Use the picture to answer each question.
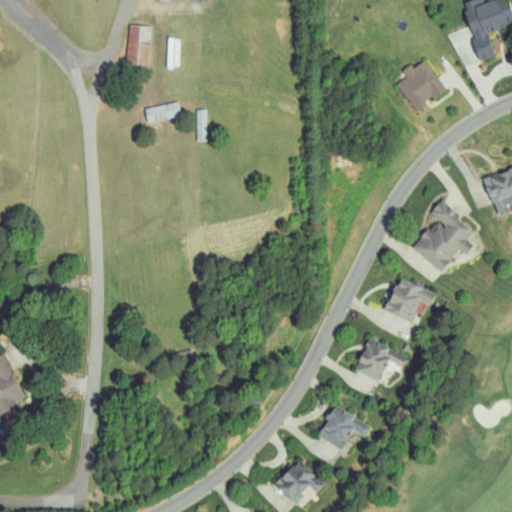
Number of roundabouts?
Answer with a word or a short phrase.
0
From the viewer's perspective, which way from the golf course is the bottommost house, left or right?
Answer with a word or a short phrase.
left of it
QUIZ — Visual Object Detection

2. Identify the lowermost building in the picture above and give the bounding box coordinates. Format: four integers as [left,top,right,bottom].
[276,462,324,504]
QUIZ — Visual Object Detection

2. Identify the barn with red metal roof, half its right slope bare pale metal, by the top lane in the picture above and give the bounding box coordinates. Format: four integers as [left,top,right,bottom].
[128,24,152,66]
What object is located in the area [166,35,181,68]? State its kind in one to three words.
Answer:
shed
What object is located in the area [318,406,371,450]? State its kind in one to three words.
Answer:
house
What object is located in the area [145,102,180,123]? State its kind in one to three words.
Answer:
shed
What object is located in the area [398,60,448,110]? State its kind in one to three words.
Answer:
house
